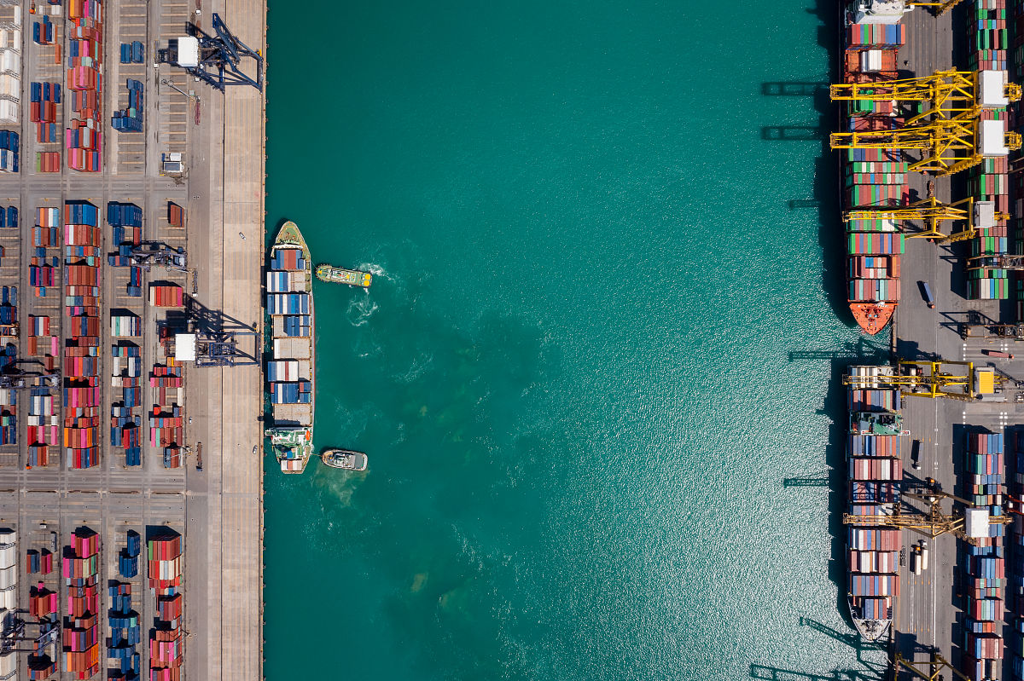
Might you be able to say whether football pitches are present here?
No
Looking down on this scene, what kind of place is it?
port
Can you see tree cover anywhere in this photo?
No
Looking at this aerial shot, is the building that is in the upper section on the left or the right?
left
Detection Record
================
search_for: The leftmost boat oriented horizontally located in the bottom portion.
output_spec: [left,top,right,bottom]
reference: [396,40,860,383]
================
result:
[321,450,369,471]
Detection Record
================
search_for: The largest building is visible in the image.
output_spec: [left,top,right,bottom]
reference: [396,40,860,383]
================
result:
[160,151,184,175]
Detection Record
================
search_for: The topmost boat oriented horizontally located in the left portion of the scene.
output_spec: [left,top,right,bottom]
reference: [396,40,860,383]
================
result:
[316,262,373,286]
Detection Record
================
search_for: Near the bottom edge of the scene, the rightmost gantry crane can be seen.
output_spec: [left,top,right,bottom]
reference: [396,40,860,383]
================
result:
[898,652,970,681]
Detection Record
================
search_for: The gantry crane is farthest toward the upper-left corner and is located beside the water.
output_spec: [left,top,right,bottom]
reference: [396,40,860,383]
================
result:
[170,11,262,96]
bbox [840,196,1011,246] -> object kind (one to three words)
container crane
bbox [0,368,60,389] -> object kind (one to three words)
container crane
